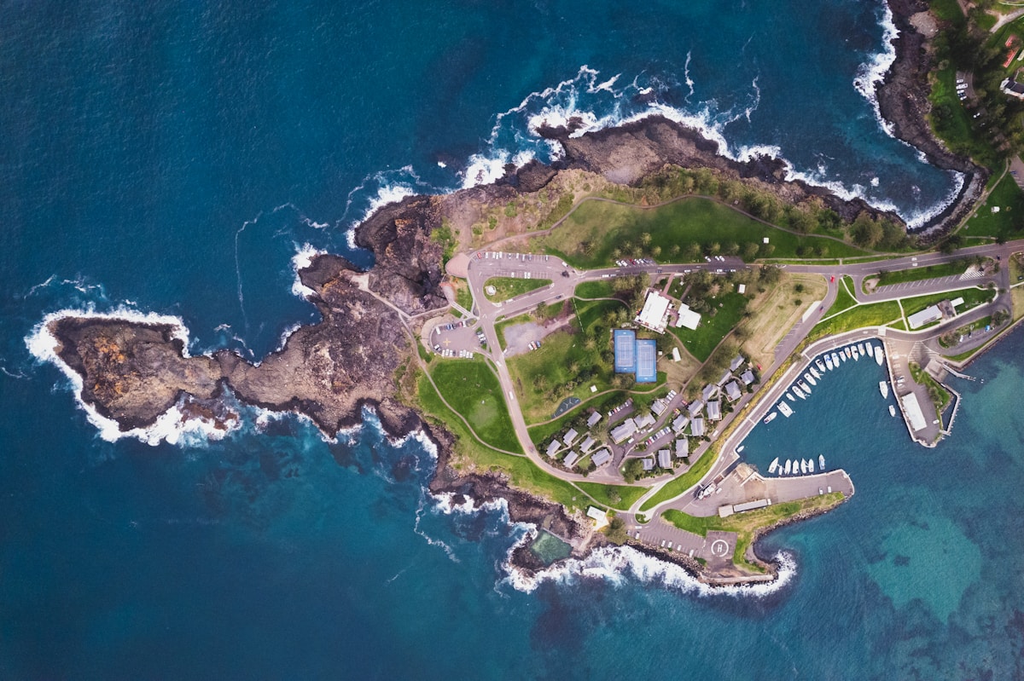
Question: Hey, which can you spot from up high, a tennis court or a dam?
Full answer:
The one in the frame is a tennis court.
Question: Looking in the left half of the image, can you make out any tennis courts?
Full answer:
No, the scene shows no tennis court in the left half of the image.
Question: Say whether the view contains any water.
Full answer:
Yes, there's water in this view.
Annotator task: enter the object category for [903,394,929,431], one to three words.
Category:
shed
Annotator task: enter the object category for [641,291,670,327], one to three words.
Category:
building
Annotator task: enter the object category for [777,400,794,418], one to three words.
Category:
boat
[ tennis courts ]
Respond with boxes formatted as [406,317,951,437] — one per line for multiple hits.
[614,329,636,373]
[636,339,657,383]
